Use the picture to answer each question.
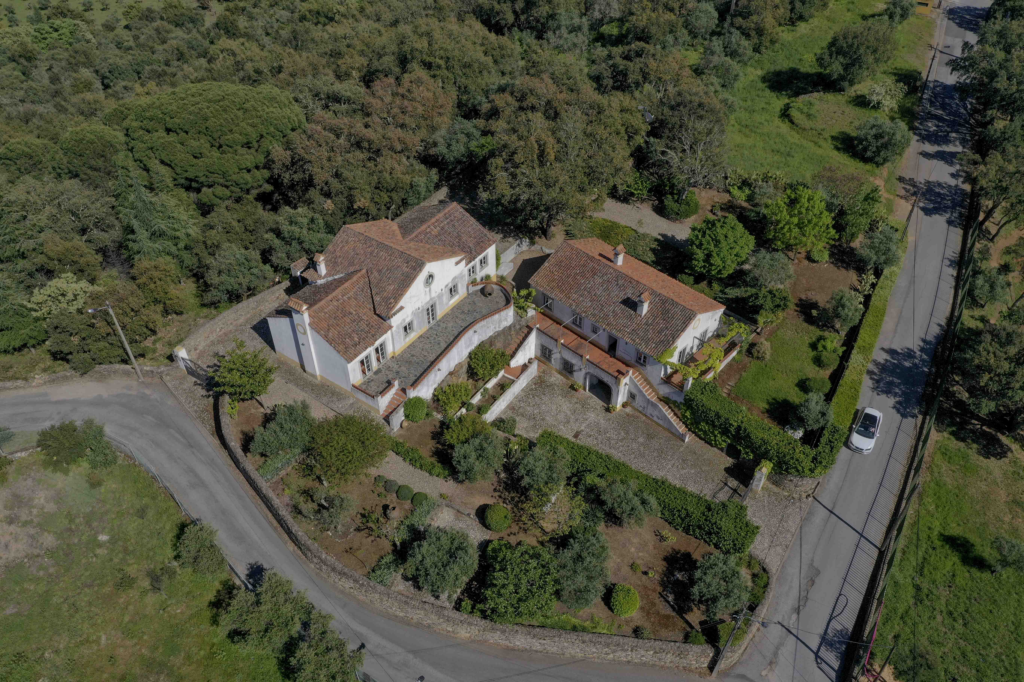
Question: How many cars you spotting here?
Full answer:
Altogether the scene contains 1 car.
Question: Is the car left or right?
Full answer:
The car is on the right side of the image.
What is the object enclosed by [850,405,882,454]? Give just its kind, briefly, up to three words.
car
